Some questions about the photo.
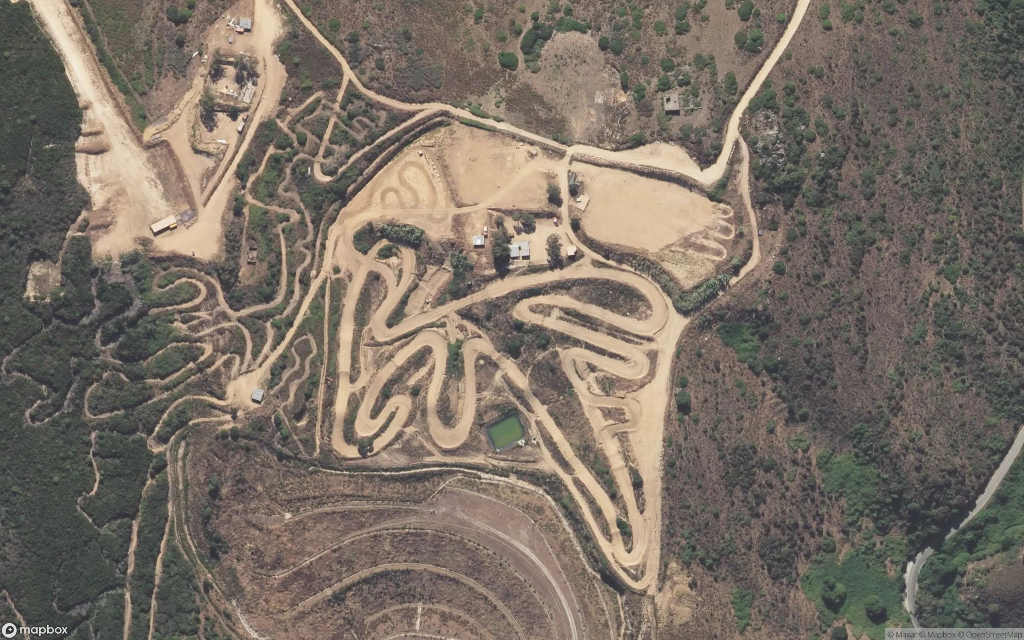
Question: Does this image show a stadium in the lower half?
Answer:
No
